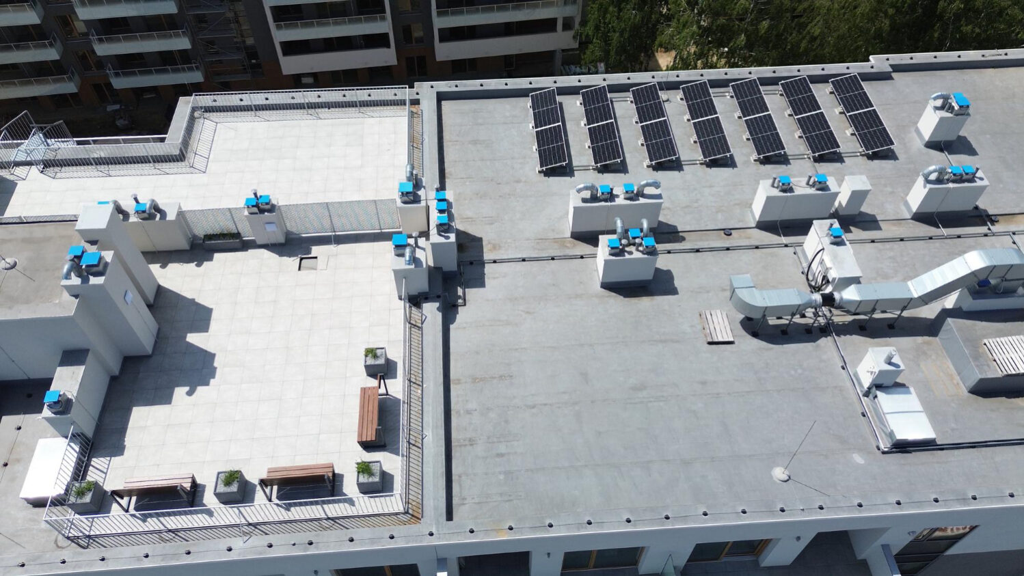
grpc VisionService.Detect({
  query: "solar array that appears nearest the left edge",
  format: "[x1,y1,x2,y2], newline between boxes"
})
[526,85,569,173]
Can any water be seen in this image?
No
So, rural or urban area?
urban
